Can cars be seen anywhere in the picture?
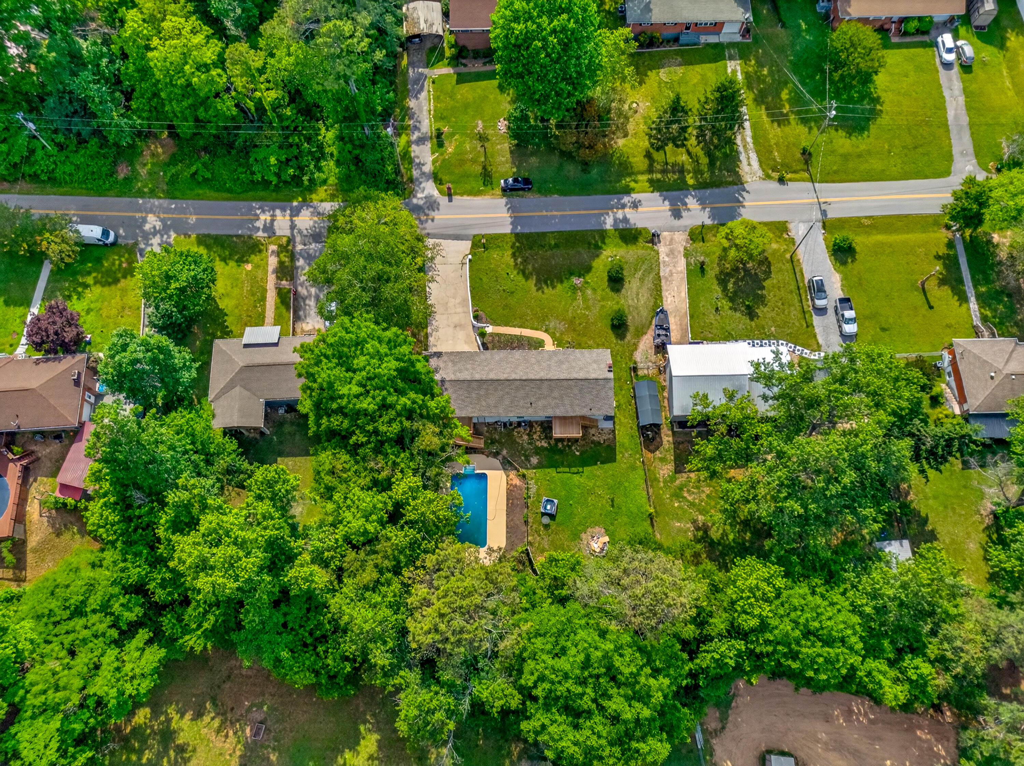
Yes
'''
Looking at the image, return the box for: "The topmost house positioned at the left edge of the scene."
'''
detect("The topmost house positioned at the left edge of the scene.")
[0,350,96,436]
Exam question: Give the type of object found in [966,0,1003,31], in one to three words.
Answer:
shed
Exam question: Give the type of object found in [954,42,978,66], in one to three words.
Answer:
car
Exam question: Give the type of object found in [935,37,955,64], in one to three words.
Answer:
car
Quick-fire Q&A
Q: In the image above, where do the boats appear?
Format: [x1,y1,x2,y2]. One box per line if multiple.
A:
[653,306,672,352]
